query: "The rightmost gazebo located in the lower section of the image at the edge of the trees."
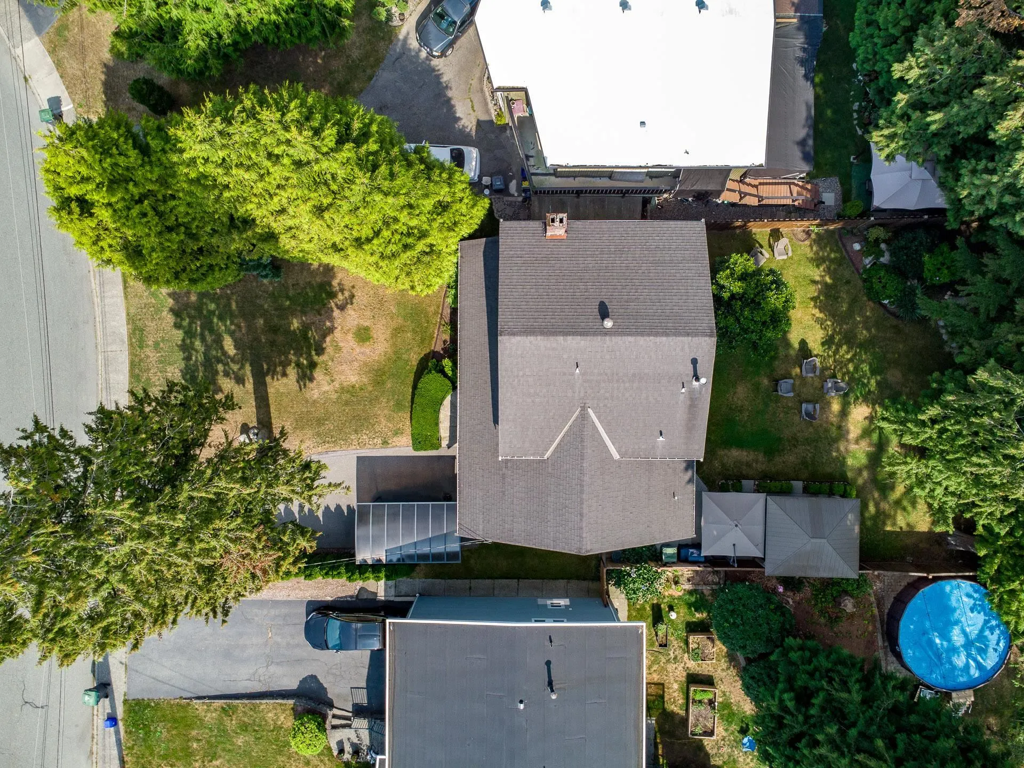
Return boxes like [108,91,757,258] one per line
[753,490,861,579]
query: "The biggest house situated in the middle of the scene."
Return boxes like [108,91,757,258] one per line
[456,213,716,553]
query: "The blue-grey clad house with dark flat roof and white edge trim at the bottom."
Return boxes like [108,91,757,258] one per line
[375,595,646,768]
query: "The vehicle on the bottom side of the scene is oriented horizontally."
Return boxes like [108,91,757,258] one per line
[308,608,404,658]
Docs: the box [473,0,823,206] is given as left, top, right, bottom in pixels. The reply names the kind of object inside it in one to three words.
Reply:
house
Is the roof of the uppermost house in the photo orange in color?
No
